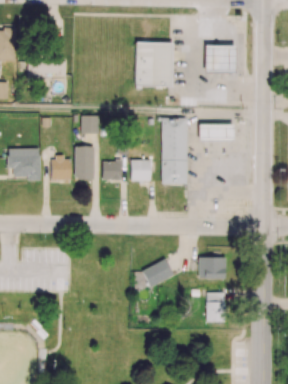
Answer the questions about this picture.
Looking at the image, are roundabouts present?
No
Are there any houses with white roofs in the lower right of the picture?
Yes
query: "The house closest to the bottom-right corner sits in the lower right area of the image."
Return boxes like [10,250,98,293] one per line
[206,292,226,324]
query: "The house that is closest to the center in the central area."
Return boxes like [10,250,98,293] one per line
[130,160,152,182]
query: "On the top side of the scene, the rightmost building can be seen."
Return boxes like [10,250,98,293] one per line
[158,118,188,186]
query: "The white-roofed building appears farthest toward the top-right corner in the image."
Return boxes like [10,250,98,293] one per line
[136,42,174,90]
